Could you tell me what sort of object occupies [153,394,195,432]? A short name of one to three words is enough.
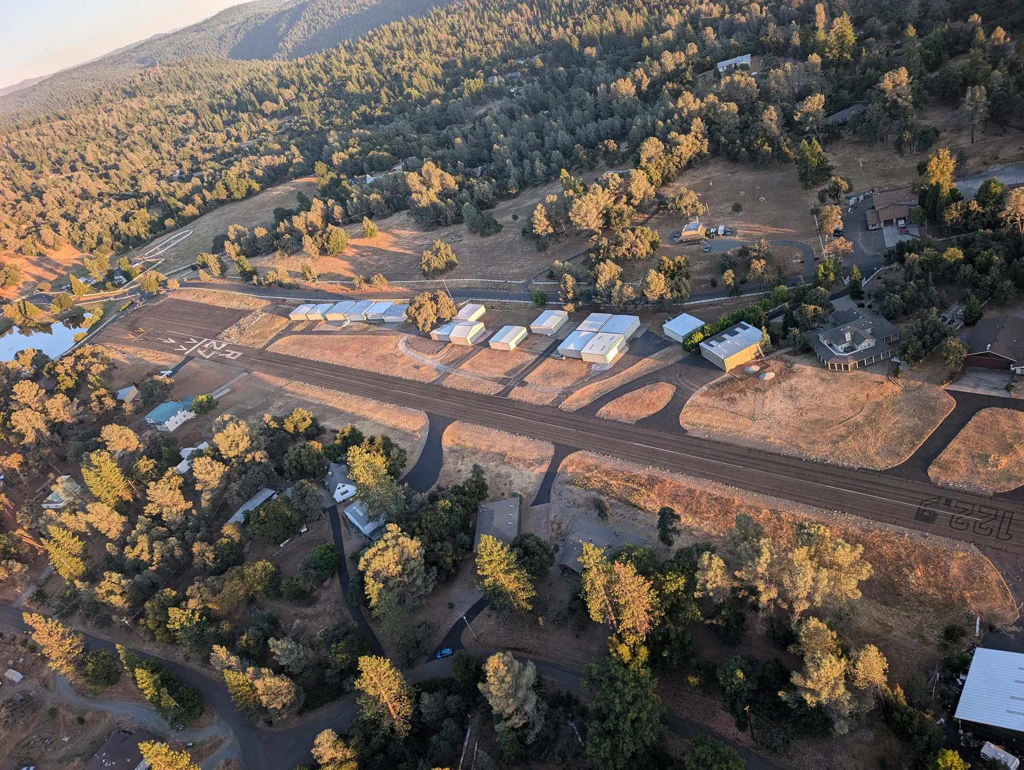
house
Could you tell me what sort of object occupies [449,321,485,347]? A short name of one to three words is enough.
hangar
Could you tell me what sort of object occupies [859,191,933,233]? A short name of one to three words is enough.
building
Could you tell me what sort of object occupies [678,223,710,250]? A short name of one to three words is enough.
house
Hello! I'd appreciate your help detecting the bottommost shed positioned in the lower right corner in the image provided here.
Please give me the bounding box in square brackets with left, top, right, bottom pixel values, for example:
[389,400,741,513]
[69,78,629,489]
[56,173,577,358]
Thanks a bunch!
[952,644,1024,754]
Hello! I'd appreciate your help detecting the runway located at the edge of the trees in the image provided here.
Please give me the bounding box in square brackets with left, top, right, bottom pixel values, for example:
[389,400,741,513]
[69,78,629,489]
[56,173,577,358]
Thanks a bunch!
[95,298,1024,564]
